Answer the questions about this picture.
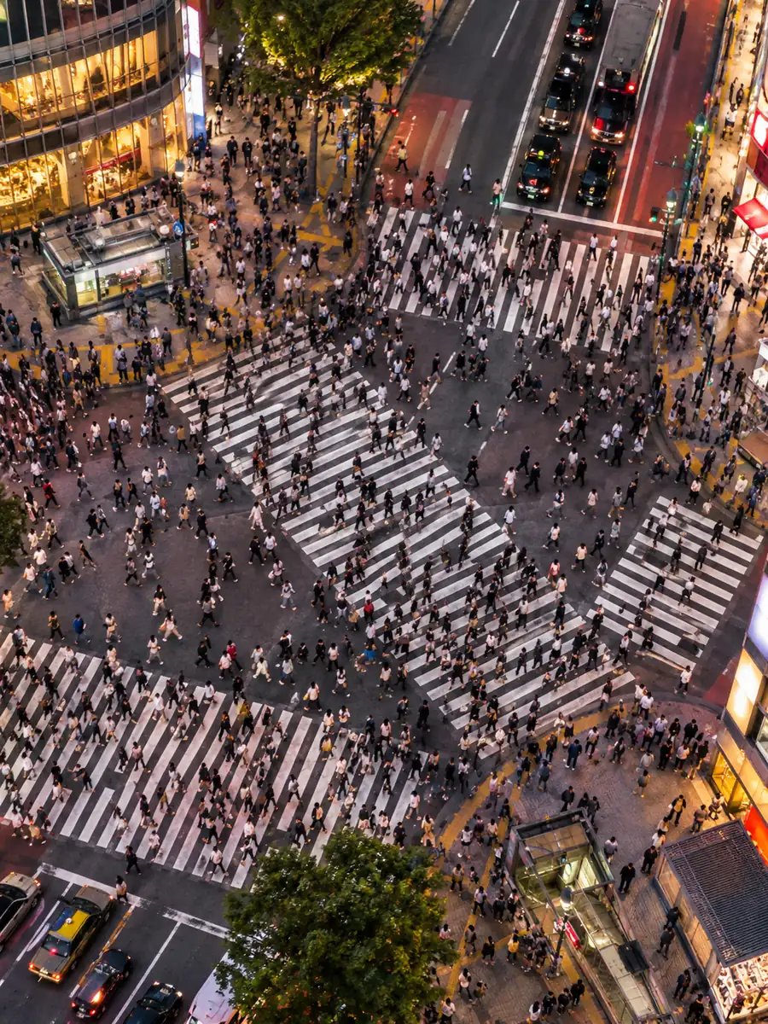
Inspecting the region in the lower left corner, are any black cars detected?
Yes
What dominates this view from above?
paved ground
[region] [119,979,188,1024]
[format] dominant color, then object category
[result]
black car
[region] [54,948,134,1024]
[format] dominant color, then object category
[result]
black car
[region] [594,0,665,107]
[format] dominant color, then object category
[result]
gray bus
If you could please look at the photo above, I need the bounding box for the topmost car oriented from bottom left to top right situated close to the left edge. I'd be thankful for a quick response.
[23,885,112,982]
